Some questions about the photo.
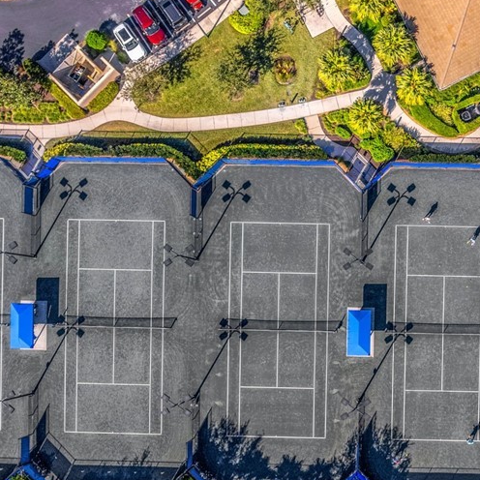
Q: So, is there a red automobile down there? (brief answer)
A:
Yes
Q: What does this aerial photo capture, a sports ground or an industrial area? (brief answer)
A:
sports ground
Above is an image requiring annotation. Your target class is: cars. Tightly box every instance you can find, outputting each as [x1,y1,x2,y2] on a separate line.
[189,0,207,9]
[113,19,150,63]
[132,1,167,46]
[160,0,192,30]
